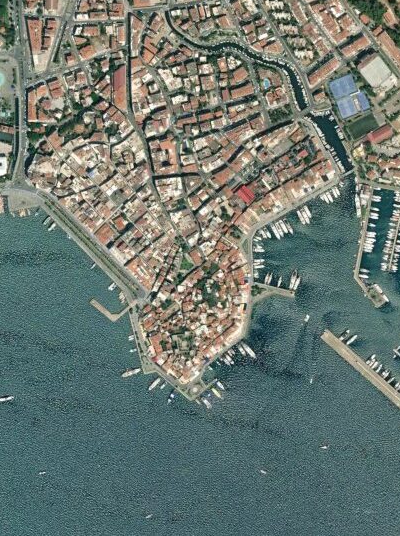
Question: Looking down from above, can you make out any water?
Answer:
Yes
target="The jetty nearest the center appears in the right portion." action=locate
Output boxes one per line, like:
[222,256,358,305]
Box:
[252,282,295,306]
